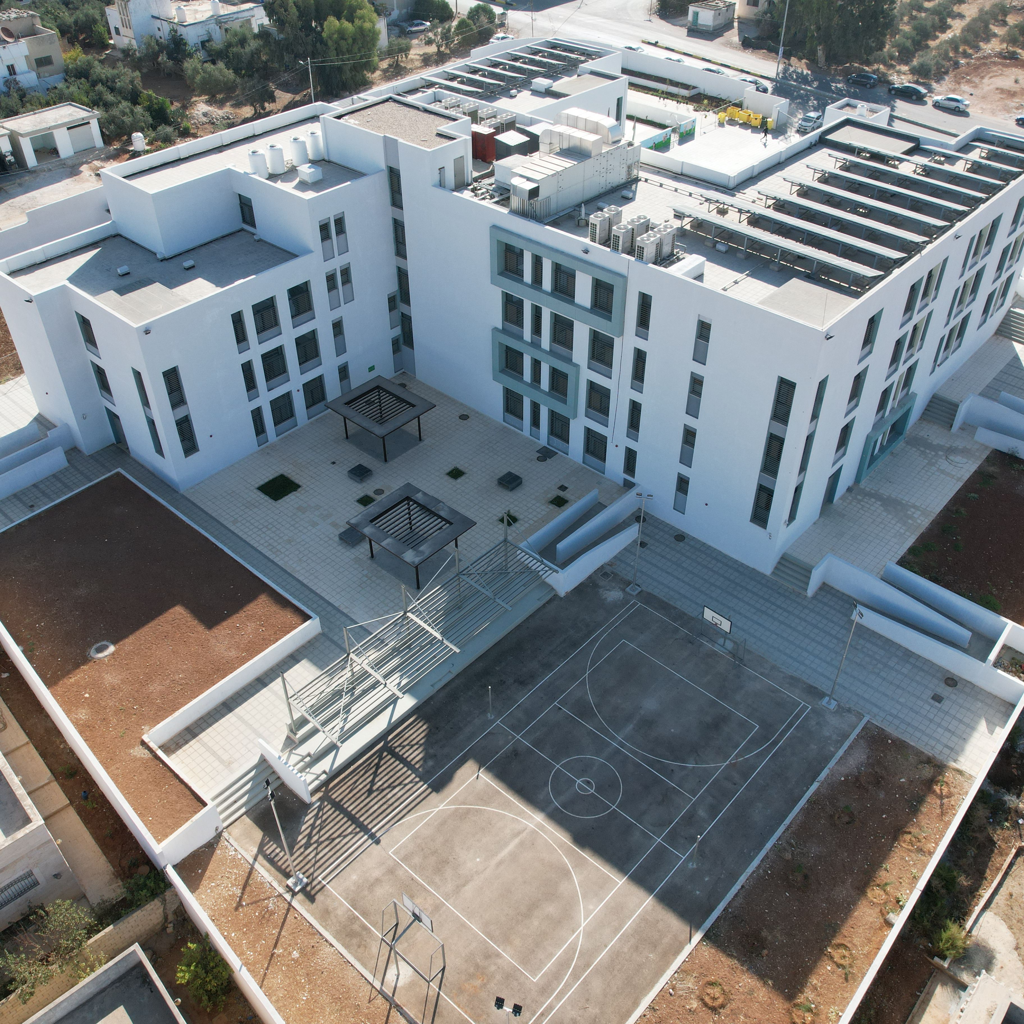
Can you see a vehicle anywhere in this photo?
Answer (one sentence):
Yes, you can see a vehicle in this photo.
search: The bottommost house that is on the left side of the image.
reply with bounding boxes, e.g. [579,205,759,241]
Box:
[21,943,185,1024]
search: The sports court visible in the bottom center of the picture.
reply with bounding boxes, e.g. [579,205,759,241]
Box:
[222,564,866,1024]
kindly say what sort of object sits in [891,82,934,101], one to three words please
car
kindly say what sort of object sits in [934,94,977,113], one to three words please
car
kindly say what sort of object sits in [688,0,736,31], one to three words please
building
